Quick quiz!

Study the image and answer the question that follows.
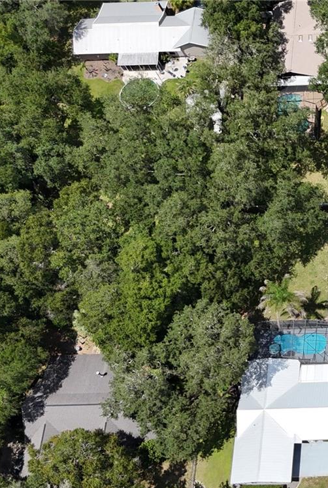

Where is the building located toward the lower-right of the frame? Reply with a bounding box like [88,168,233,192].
[231,355,328,486]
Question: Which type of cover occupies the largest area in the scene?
trees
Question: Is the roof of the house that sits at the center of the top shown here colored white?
Yes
